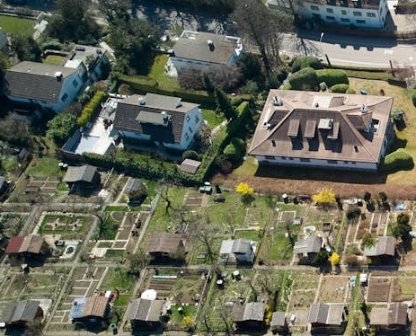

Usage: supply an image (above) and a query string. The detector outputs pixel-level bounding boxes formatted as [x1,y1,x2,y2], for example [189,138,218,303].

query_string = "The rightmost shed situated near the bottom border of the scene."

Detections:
[370,302,410,333]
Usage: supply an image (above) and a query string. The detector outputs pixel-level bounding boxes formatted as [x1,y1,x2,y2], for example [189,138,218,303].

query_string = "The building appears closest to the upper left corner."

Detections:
[6,46,110,118]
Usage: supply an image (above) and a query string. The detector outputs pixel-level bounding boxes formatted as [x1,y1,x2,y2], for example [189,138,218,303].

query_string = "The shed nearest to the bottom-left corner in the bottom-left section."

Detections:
[2,299,52,329]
